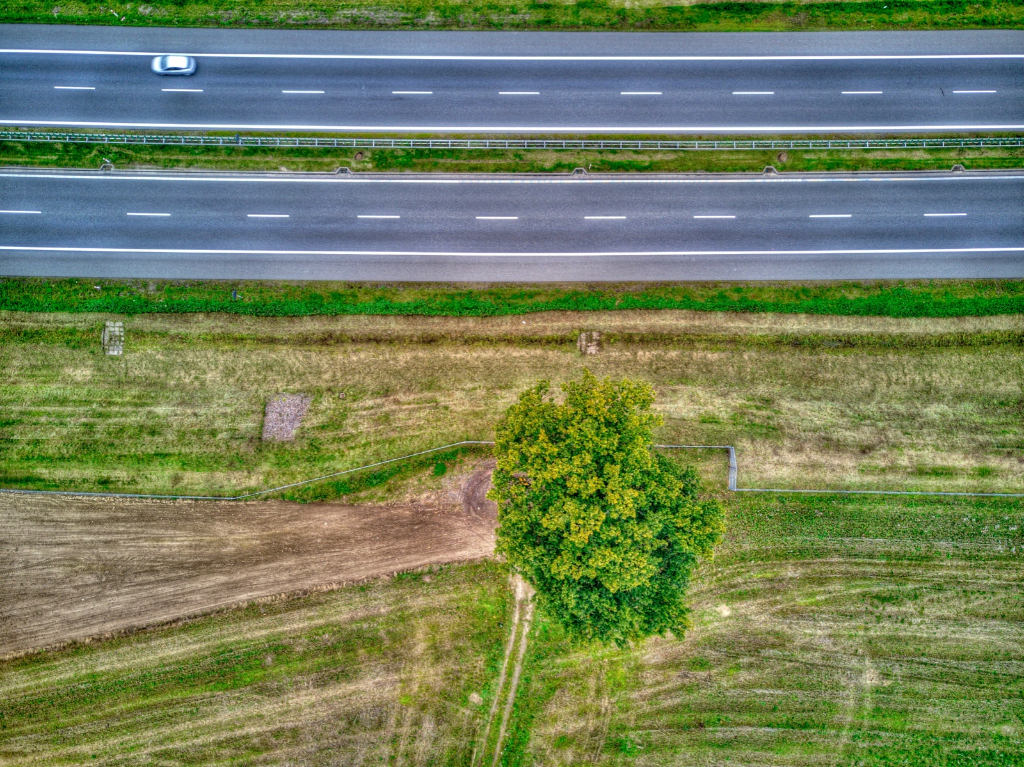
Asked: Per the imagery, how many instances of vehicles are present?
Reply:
one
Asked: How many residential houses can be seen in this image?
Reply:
0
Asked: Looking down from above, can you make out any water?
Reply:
No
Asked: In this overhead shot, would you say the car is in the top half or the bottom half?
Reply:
top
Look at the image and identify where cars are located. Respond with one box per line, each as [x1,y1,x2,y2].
[152,52,196,76]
